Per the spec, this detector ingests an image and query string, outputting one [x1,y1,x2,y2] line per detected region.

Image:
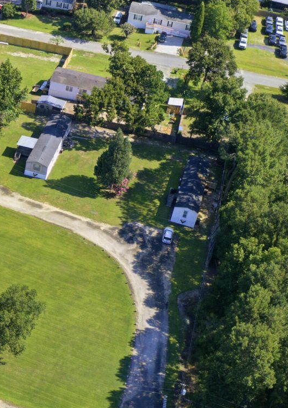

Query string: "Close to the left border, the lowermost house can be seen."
[14,113,71,180]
